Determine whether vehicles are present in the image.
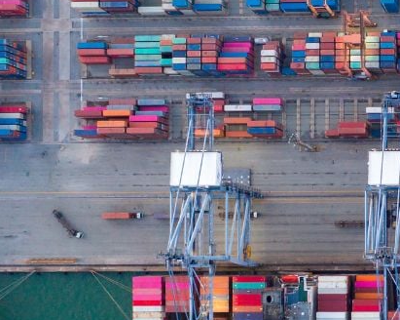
Yes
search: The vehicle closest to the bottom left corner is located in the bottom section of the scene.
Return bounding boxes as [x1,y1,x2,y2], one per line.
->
[53,209,86,239]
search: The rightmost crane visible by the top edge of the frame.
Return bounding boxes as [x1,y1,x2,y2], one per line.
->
[344,11,376,80]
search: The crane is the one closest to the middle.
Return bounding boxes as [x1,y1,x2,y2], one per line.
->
[163,90,272,320]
